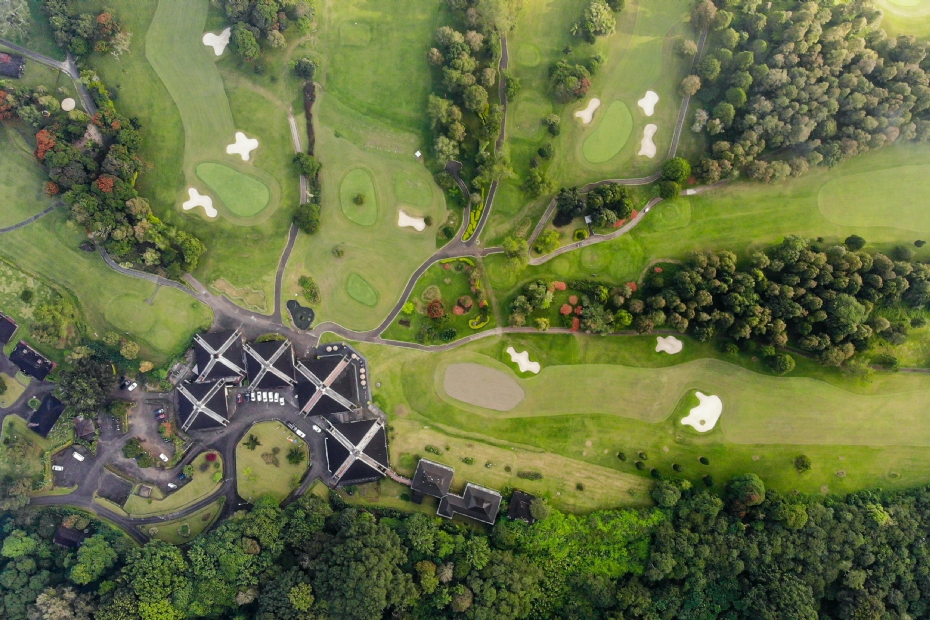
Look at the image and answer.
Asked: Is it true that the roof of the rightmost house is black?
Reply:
Yes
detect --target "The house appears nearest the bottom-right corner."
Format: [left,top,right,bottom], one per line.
[508,488,535,523]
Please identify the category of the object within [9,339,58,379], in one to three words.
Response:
house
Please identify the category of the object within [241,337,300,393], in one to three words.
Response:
building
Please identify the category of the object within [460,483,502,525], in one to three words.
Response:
house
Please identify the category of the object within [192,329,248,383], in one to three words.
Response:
building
